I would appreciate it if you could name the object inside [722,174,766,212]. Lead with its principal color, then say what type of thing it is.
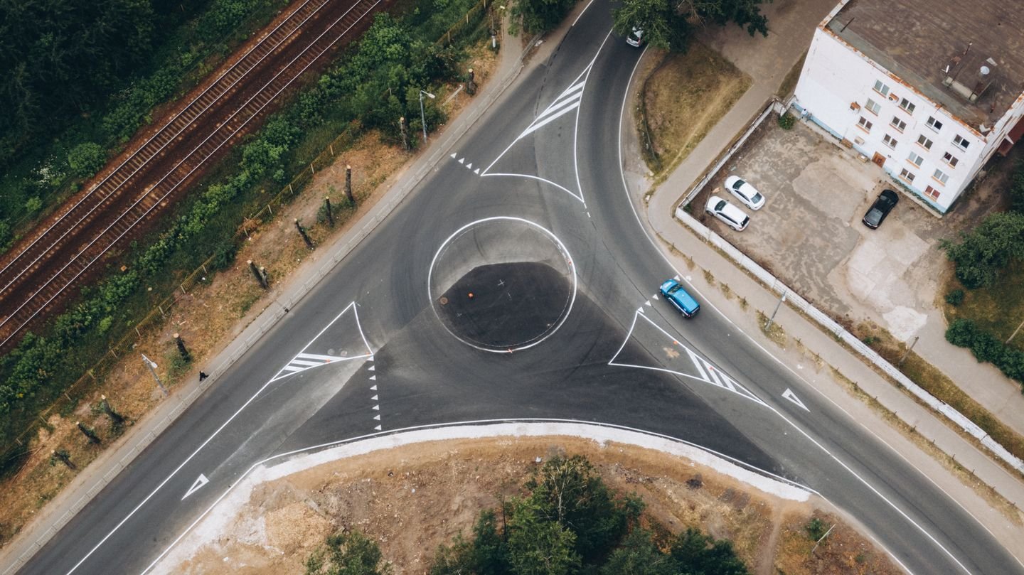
white car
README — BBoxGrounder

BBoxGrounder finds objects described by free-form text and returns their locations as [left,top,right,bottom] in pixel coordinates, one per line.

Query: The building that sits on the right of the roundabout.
[788,0,1024,218]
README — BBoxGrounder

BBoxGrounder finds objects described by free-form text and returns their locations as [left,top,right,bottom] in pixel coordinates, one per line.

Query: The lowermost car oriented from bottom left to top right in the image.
[864,190,900,233]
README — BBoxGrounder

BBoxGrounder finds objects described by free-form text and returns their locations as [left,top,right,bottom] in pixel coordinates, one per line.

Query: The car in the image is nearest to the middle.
[658,279,701,320]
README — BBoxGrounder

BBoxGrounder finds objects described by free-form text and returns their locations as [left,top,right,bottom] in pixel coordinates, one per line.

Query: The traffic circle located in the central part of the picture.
[271,57,770,430]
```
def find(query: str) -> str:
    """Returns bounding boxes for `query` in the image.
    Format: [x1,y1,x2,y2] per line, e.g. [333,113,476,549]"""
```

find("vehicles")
[703,196,751,232]
[864,190,900,233]
[722,174,766,212]
[658,279,701,320]
[627,31,648,47]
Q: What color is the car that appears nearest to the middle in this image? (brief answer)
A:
blue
